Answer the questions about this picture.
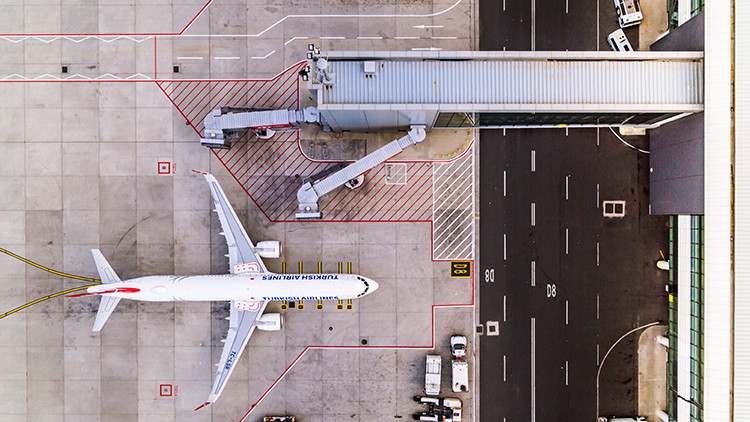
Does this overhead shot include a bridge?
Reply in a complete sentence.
Yes, the image includes a bridge.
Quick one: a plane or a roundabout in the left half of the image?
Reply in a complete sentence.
It is a plane that can be seen in the left half of the image.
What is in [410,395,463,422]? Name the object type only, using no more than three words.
work vehicle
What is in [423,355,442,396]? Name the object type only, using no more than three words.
vehicle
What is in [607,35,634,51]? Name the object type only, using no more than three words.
vehicle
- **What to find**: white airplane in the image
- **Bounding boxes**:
[64,170,379,413]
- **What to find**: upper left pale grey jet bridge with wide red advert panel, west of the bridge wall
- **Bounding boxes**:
[201,103,328,150]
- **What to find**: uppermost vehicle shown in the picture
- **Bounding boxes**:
[607,0,639,33]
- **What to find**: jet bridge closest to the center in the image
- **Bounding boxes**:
[297,123,426,221]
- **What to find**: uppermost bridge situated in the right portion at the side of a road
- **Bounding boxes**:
[308,51,704,132]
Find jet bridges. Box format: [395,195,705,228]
[201,103,328,150]
[297,123,426,221]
